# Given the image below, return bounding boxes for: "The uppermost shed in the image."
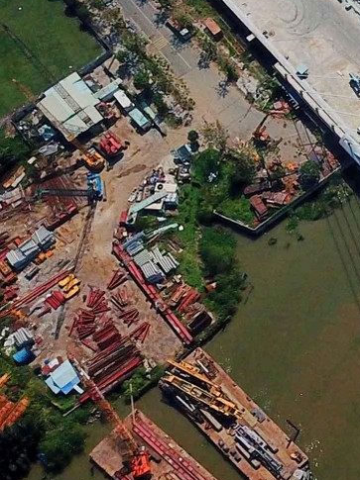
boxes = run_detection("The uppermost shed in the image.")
[202,17,225,42]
